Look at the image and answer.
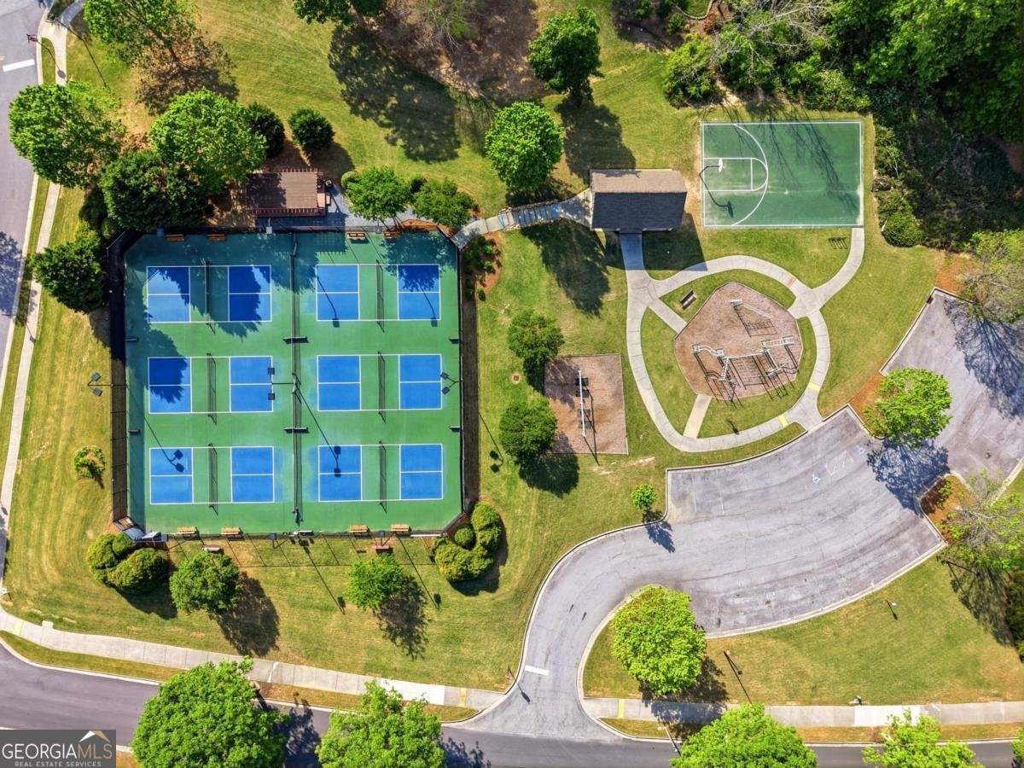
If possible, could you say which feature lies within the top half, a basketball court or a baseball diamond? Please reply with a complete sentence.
What appears within the top half is a basketball court.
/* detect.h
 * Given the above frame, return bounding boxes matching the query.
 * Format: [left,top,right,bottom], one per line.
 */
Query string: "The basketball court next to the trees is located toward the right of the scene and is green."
[701,121,864,229]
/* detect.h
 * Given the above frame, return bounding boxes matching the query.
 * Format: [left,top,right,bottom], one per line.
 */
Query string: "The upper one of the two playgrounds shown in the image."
[674,282,804,400]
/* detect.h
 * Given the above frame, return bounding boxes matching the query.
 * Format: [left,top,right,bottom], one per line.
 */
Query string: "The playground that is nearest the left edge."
[544,353,629,455]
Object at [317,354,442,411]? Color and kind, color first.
blue sports court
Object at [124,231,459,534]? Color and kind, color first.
green tennis court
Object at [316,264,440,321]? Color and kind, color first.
blue sports court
